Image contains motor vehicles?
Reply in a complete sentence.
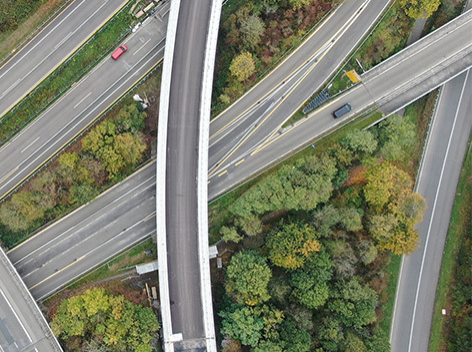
Yes, there is a motor vehicle in the image.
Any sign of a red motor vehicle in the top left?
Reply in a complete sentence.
Yes, the scene does show a red motor vehicle in the top left.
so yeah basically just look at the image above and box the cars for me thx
[334,101,354,118]
[111,44,128,60]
